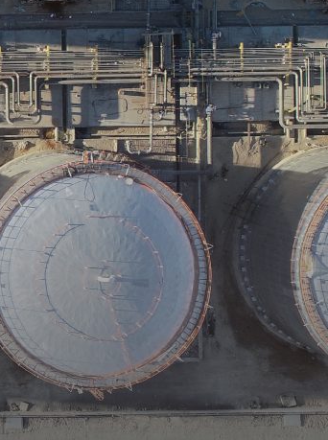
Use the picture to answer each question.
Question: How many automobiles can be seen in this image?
zero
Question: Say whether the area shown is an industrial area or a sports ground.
industrial area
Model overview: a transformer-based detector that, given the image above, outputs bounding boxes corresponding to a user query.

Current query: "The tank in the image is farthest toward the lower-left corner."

[0,149,209,387]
